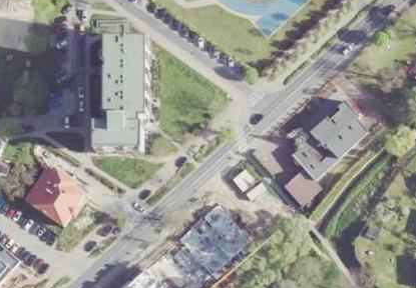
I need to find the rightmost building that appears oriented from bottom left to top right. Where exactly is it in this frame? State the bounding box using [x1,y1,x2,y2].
[285,102,367,207]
